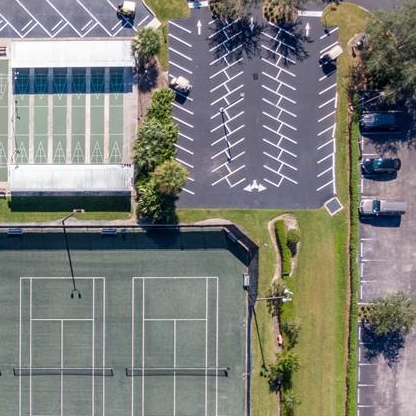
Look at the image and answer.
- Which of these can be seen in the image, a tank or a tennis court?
tennis court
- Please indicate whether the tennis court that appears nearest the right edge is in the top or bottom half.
bottom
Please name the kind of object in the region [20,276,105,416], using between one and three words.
tennis court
